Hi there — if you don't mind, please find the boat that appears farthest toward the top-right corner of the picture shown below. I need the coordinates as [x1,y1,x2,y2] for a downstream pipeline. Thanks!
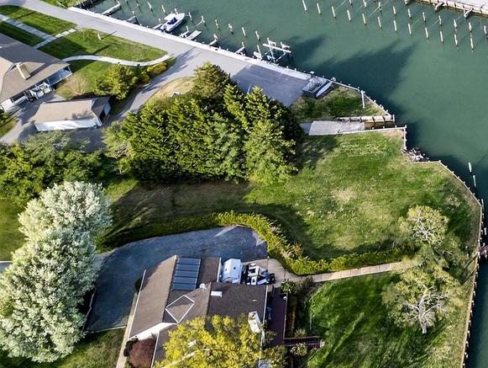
[300,72,332,96]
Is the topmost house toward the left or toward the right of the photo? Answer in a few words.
left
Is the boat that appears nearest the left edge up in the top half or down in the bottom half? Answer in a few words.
top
